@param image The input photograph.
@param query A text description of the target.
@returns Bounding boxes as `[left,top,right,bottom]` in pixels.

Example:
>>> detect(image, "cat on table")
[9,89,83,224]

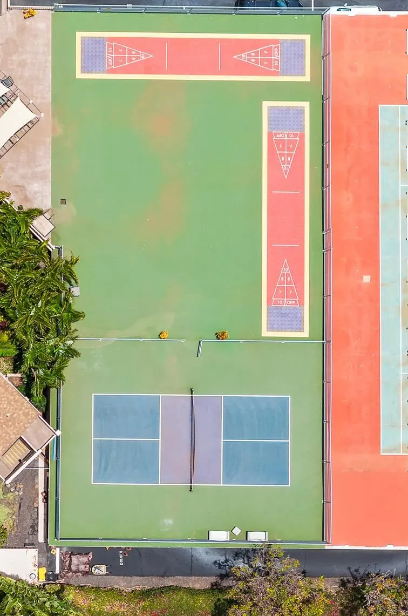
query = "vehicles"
[233,0,302,9]
[332,1,383,12]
